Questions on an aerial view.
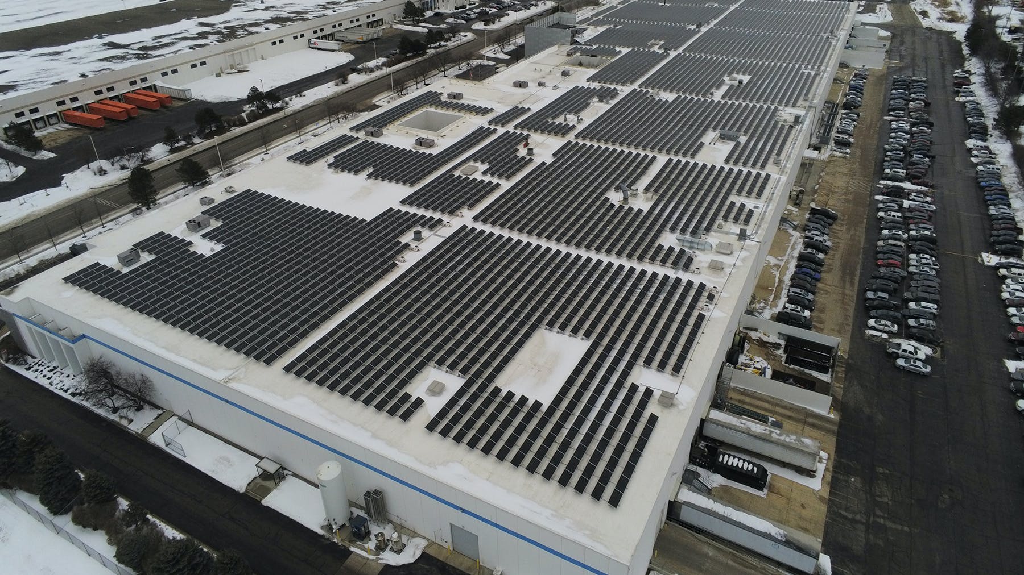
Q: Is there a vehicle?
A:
Yes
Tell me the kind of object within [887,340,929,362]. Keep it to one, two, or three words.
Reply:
truck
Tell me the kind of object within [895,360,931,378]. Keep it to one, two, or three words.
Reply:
car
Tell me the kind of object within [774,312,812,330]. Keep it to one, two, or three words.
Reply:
vehicle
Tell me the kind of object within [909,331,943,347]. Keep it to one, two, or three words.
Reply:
car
